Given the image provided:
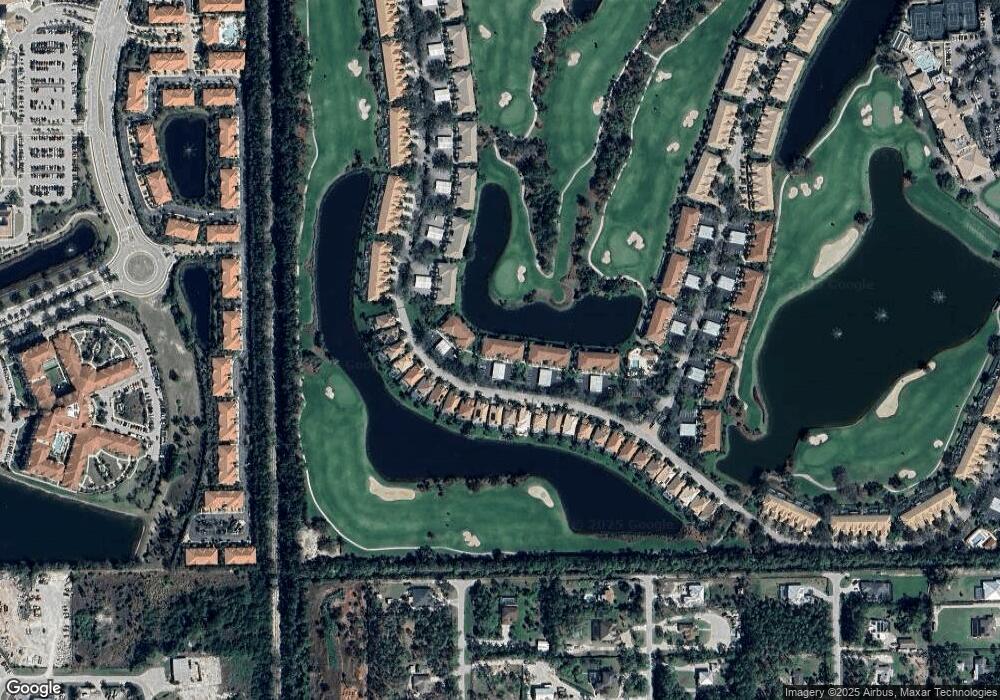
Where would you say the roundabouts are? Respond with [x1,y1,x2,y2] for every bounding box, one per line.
[108,225,172,299]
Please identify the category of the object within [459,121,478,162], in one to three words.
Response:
building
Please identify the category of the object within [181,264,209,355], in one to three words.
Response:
pond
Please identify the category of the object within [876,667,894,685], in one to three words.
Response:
house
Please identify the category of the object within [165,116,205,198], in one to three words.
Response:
pond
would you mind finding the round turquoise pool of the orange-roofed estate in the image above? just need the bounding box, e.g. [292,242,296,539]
[219,16,244,47]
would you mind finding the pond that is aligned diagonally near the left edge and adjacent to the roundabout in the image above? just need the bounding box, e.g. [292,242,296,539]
[0,220,97,293]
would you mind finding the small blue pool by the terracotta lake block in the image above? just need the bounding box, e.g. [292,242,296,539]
[629,348,658,376]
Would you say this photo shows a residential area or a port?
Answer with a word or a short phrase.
residential area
